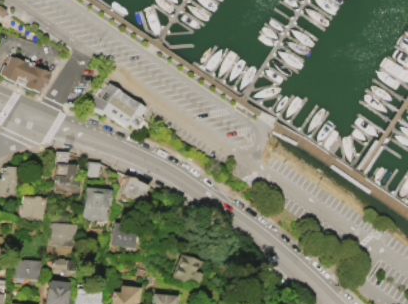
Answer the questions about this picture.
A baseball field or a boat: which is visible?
boat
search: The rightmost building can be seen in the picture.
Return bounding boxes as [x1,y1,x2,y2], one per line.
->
[172,254,205,286]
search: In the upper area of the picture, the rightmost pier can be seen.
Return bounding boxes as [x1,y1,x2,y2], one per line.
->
[343,48,408,176]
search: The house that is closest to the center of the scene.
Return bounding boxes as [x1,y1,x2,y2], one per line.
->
[122,176,152,200]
